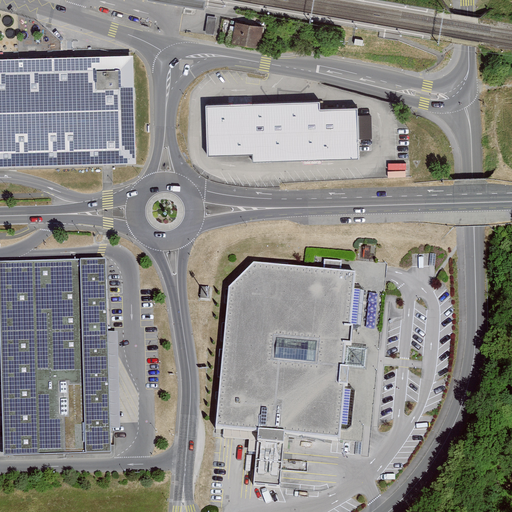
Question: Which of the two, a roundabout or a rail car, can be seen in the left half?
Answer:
roundabout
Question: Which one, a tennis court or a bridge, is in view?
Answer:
bridge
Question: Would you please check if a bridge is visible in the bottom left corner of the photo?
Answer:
No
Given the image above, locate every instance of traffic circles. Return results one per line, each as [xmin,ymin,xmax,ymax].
[126,172,204,250]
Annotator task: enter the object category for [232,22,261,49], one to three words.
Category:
house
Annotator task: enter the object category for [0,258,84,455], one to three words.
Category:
building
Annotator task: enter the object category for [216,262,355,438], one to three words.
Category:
building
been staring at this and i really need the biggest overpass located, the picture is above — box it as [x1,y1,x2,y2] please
[446,168,496,233]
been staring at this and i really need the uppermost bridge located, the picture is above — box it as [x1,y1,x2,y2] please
[444,6,492,52]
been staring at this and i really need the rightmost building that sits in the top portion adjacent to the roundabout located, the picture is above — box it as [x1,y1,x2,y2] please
[206,102,359,164]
